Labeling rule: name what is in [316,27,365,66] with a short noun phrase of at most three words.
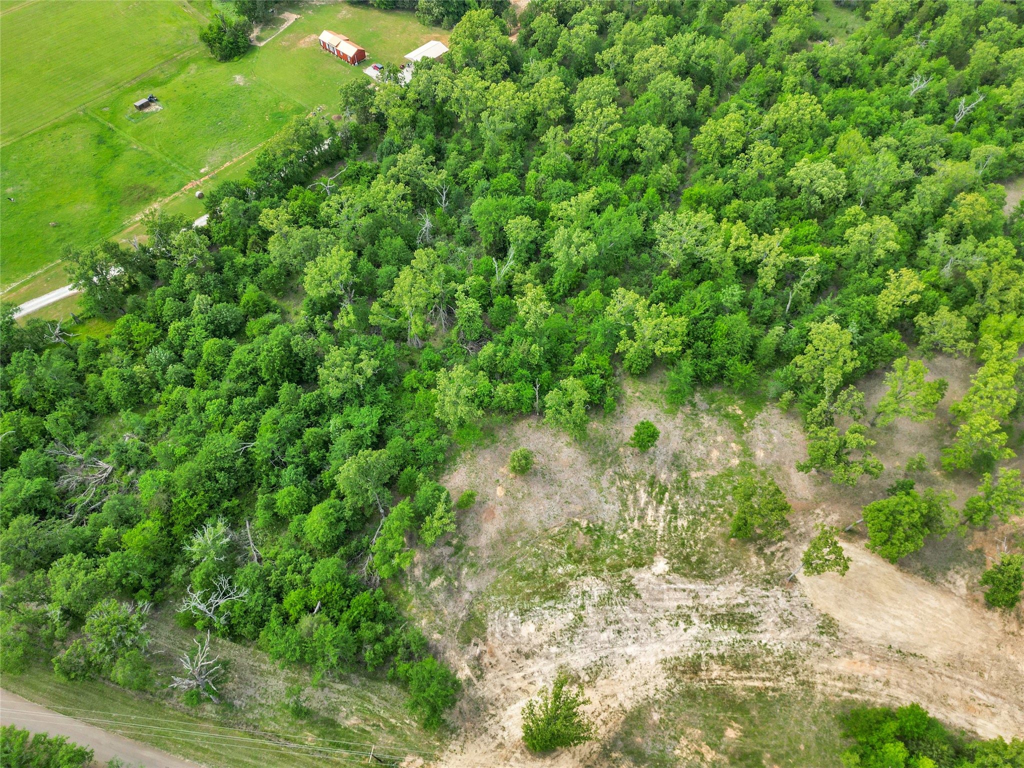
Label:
building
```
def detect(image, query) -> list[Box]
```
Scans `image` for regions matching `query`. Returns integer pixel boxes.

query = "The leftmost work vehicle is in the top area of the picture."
[144,90,165,103]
